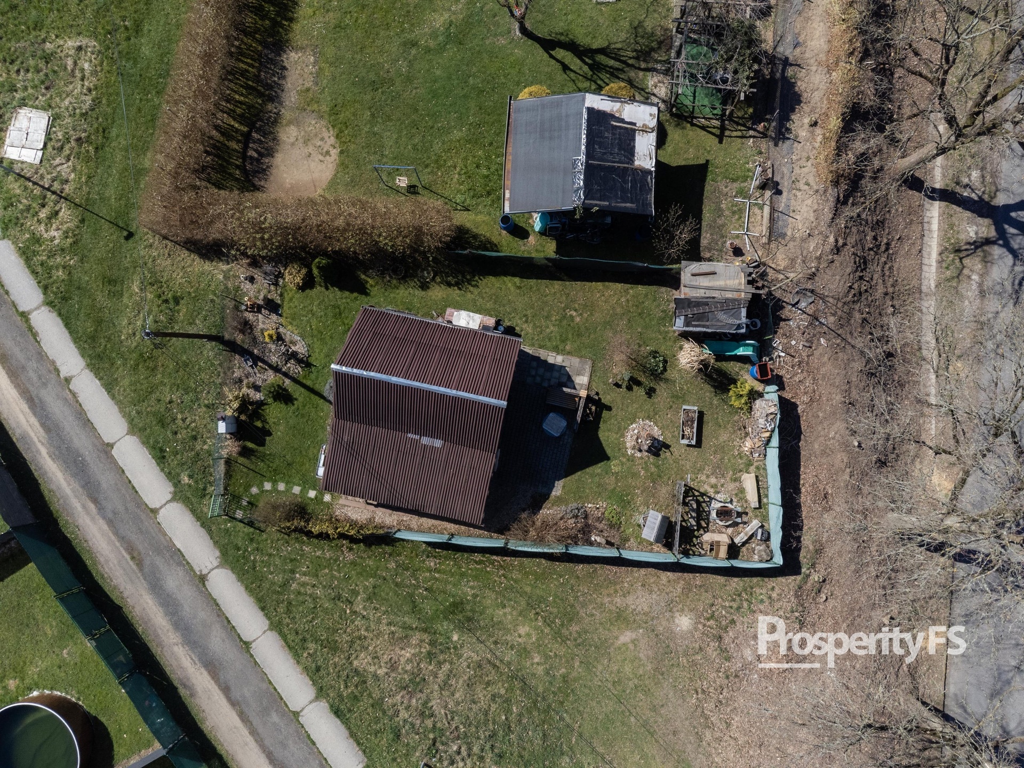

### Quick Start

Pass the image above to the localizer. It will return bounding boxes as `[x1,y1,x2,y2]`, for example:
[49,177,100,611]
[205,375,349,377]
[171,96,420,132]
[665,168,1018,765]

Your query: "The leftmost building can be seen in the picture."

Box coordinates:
[322,301,525,526]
